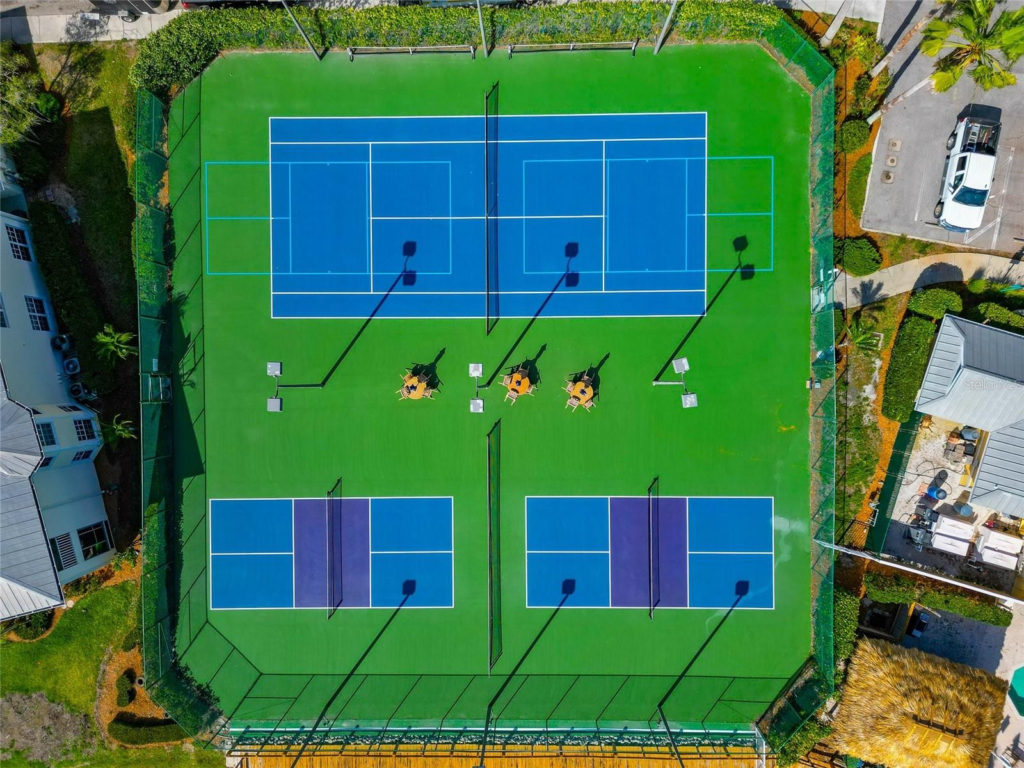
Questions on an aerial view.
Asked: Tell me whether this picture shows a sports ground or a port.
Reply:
sports ground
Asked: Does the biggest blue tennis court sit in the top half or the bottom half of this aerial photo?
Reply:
top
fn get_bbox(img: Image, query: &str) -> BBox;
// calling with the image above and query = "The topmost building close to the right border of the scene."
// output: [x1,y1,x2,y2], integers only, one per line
[912,311,1024,523]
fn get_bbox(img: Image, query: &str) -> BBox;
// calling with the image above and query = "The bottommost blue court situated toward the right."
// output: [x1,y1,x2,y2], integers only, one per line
[525,497,775,609]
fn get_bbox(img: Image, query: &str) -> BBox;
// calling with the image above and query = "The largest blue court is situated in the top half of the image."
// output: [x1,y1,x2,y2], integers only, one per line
[205,113,773,318]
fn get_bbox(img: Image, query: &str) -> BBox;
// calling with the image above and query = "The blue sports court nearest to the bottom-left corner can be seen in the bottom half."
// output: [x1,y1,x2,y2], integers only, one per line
[210,497,454,609]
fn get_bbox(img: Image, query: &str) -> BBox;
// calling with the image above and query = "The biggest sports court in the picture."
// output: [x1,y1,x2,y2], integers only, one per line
[167,42,812,722]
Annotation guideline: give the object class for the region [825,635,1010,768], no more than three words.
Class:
shed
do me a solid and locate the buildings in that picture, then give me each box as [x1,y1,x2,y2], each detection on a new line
[825,635,1010,768]
[0,209,117,621]
[912,311,1024,523]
